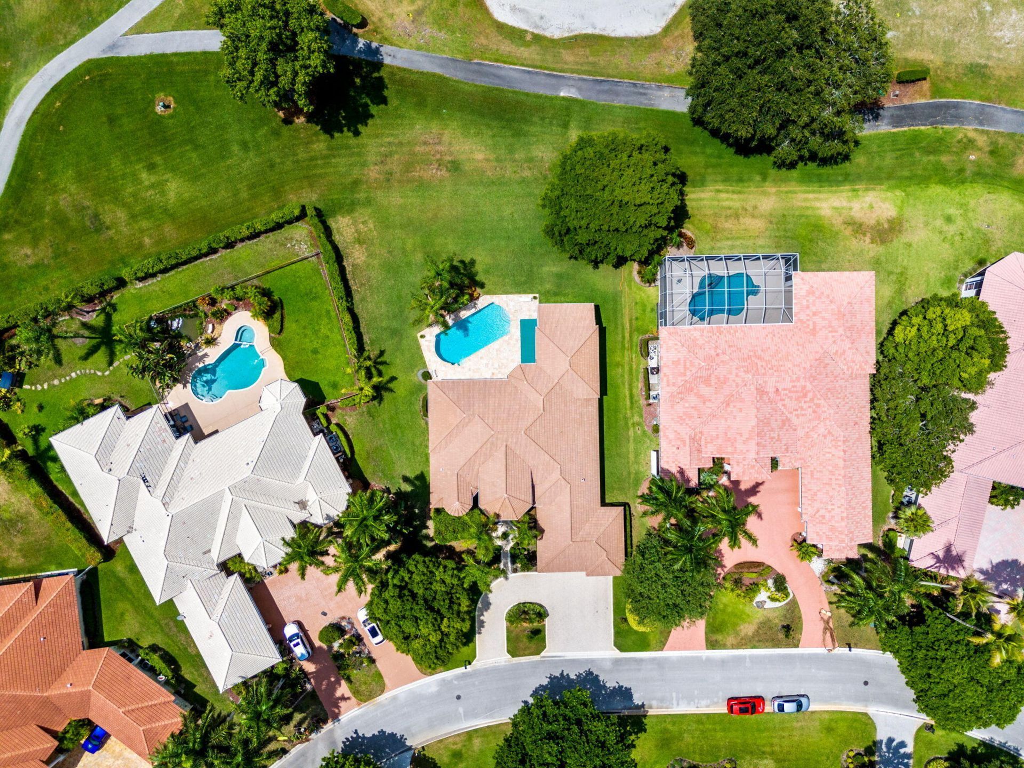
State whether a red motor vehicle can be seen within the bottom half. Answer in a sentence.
Yes, the scene does show a red motor vehicle within the bottom half.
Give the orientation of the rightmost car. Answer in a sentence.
From this overhead view, the rightmost car appears to run horizontally.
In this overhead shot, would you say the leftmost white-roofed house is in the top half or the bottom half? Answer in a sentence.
It is in the bottom half that the leftmost white-roofed house appears.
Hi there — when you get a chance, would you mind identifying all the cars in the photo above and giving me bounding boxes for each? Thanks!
[75,724,106,761]
[354,606,382,648]
[770,694,810,714]
[726,695,765,715]
[283,621,309,665]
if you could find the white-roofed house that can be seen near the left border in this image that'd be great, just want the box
[47,375,348,694]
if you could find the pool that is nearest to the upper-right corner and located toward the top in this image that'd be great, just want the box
[689,273,761,322]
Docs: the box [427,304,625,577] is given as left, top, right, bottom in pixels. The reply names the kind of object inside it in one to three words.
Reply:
house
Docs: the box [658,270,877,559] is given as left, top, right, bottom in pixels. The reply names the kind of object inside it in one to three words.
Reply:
house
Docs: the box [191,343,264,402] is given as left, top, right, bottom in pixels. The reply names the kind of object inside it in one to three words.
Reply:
swimming pool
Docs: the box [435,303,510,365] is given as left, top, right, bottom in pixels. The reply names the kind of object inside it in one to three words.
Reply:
swimming pool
